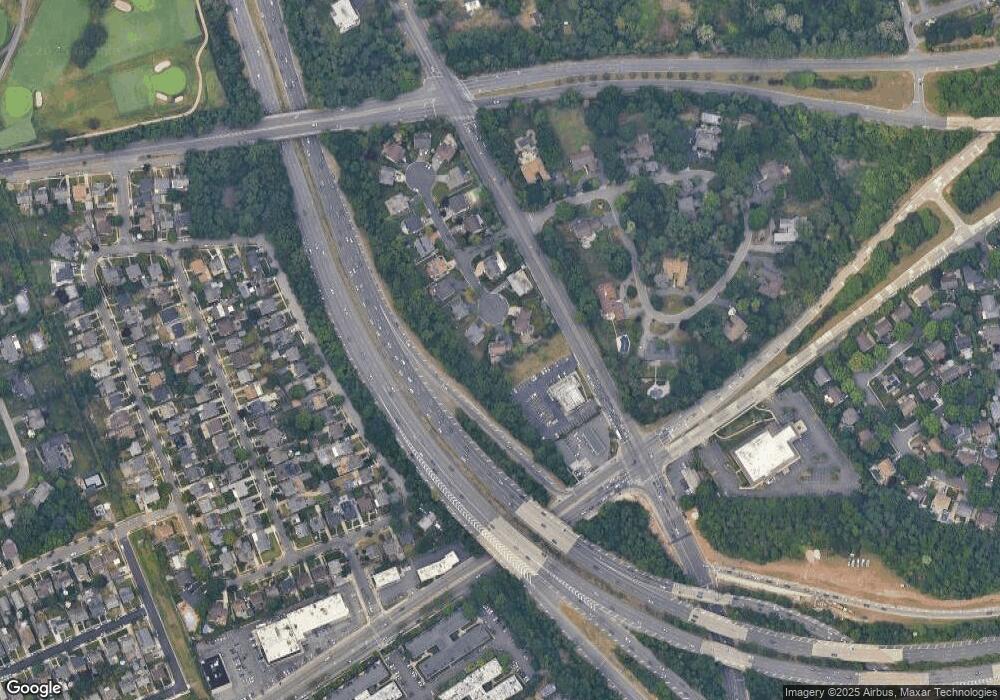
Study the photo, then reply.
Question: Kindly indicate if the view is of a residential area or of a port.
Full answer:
This image shows a residential area.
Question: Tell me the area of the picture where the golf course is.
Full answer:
The golf course sits in the top left section of the image.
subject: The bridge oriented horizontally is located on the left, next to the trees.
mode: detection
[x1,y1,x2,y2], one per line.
[264,108,321,139]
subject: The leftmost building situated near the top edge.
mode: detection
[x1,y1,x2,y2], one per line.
[331,0,360,35]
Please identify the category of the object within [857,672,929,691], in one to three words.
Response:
bridge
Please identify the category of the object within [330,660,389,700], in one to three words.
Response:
building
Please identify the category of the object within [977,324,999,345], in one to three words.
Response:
house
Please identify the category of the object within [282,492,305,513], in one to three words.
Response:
house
